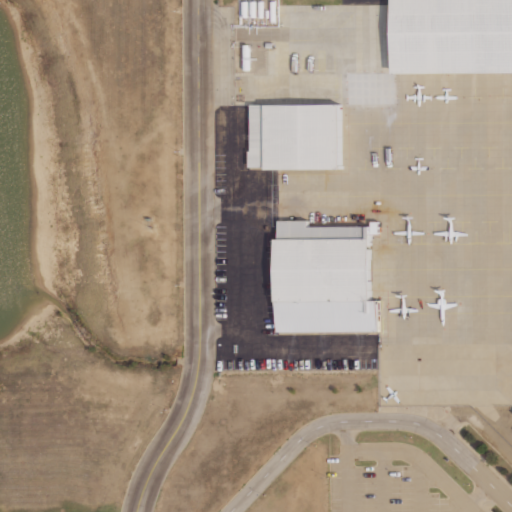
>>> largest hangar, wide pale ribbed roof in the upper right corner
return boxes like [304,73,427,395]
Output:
[387,0,512,73]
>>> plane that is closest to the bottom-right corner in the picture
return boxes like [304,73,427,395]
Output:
[382,386,400,404]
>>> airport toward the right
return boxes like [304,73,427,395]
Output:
[212,0,512,426]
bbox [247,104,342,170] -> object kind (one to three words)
hangar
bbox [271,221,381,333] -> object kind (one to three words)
hangar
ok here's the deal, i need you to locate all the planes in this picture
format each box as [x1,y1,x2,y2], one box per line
[406,85,432,106]
[392,217,424,246]
[409,158,429,176]
[382,386,400,404]
[427,292,458,326]
[436,88,458,104]
[388,295,419,320]
[432,216,468,244]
